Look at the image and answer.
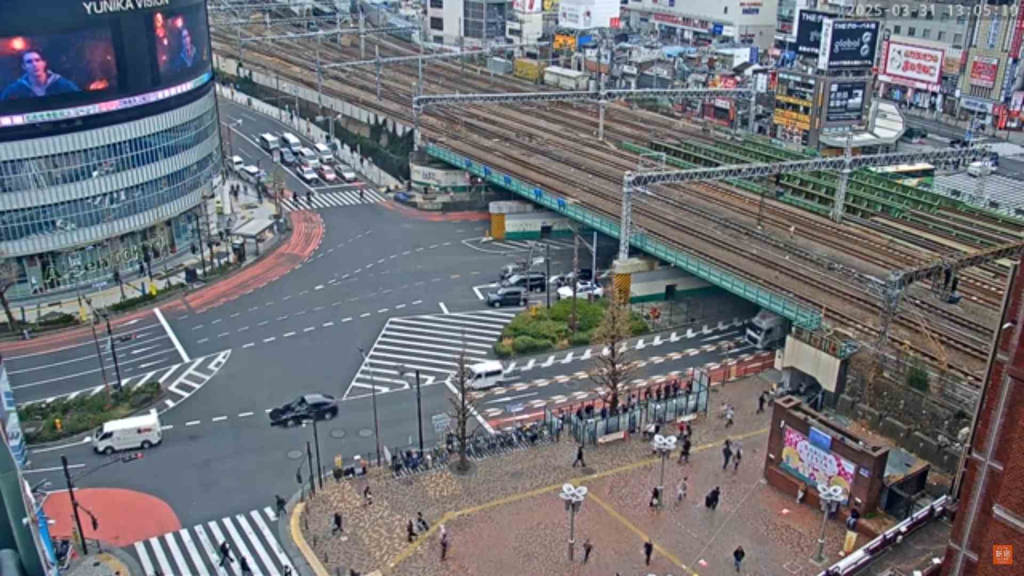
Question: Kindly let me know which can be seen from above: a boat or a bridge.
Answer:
bridge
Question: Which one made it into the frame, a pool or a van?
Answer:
van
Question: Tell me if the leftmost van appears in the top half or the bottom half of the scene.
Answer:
bottom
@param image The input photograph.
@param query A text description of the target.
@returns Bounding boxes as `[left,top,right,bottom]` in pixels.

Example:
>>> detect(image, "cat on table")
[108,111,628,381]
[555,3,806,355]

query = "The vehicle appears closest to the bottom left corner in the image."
[90,411,164,453]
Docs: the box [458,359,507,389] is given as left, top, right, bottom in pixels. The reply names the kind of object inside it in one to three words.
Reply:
van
